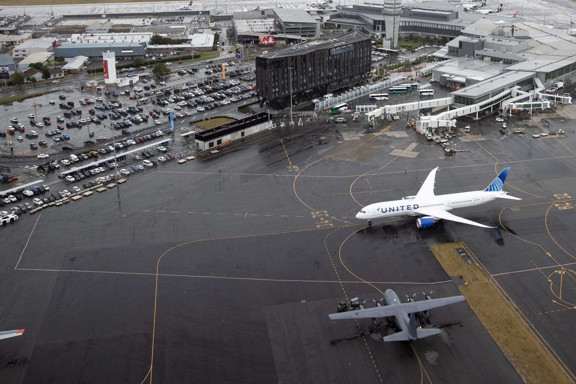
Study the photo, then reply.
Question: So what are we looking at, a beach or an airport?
airport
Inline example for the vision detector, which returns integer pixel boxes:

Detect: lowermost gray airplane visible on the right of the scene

[327,286,466,340]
